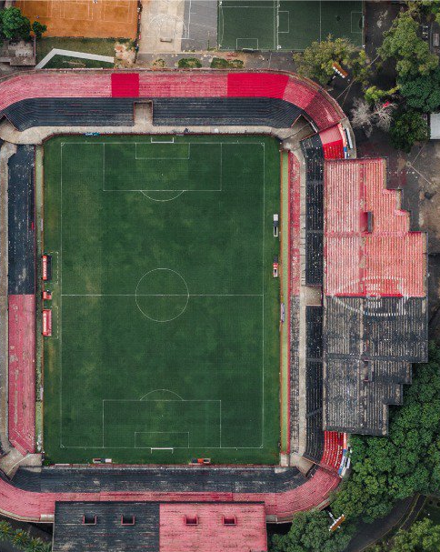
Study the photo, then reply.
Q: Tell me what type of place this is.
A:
sports ground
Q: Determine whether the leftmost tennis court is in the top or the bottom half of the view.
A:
top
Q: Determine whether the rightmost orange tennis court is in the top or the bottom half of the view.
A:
top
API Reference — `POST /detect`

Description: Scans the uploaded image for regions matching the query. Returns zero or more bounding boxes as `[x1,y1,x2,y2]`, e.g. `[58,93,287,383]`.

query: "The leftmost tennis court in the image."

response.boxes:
[16,0,56,37]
